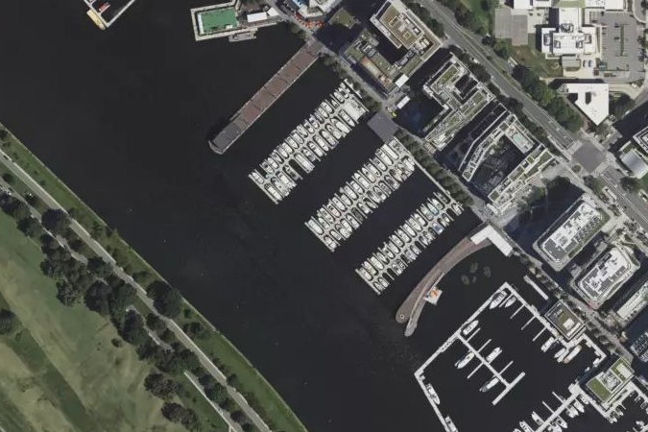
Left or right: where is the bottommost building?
right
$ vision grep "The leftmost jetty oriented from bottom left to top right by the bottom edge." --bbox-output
[414,282,521,432]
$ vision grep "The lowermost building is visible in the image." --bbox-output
[587,357,634,406]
